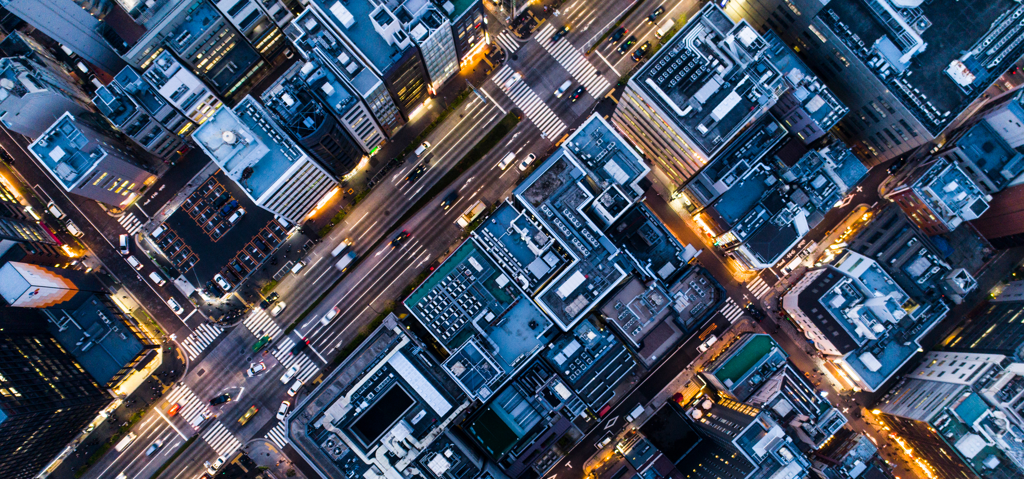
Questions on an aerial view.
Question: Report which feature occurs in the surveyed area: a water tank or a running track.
water tank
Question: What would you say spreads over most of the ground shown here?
buildings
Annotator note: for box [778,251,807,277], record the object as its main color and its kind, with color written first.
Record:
white truck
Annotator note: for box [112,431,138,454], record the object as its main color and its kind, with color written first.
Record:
white vehicle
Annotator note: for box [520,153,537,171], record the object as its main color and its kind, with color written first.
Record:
white car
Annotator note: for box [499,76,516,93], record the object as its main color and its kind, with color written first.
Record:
white car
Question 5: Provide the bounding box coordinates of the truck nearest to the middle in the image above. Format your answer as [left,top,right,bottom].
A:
[458,200,485,227]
